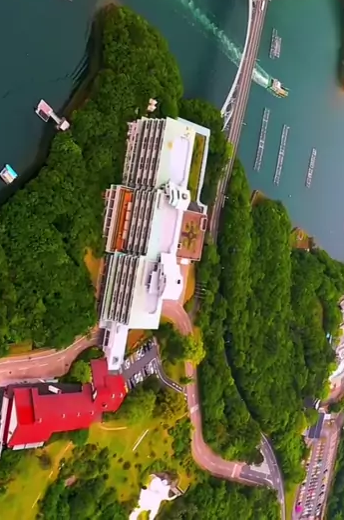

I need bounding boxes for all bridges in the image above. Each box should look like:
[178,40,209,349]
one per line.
[214,0,269,209]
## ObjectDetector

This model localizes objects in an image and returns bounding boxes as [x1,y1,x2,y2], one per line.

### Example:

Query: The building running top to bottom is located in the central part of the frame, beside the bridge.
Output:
[91,117,209,372]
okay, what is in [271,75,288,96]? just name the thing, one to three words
ship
